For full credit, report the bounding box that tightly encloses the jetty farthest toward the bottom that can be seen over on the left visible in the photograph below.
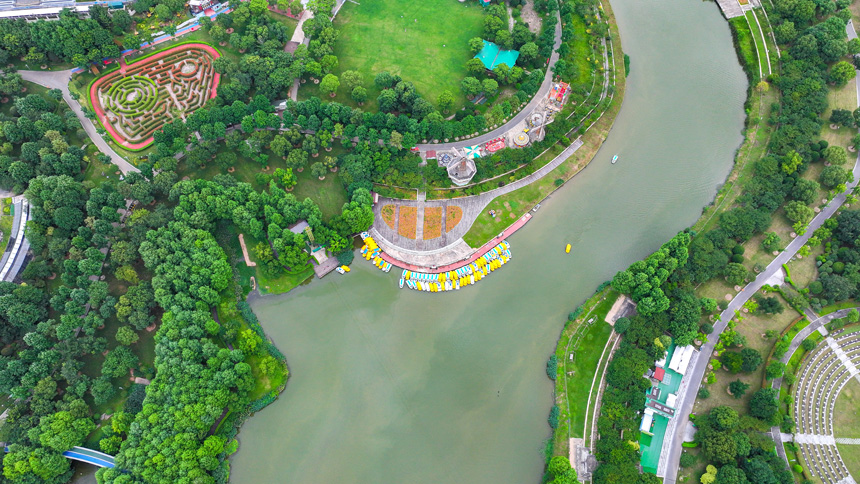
[313,249,338,279]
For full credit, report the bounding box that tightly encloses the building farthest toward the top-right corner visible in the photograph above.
[546,79,571,107]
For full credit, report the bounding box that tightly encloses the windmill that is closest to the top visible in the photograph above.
[530,108,557,143]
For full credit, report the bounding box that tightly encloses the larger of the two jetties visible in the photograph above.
[379,213,532,274]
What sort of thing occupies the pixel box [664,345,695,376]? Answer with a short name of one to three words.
building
